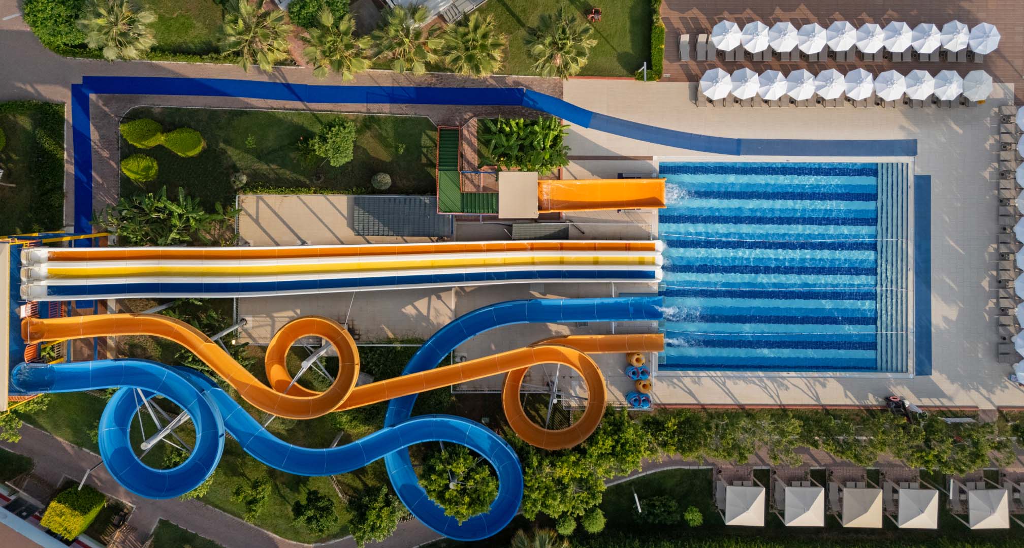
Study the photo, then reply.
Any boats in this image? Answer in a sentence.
No, the frame has no boat in it.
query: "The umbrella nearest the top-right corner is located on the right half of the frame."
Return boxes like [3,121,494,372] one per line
[967,24,998,54]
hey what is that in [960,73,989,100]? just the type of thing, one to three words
umbrella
